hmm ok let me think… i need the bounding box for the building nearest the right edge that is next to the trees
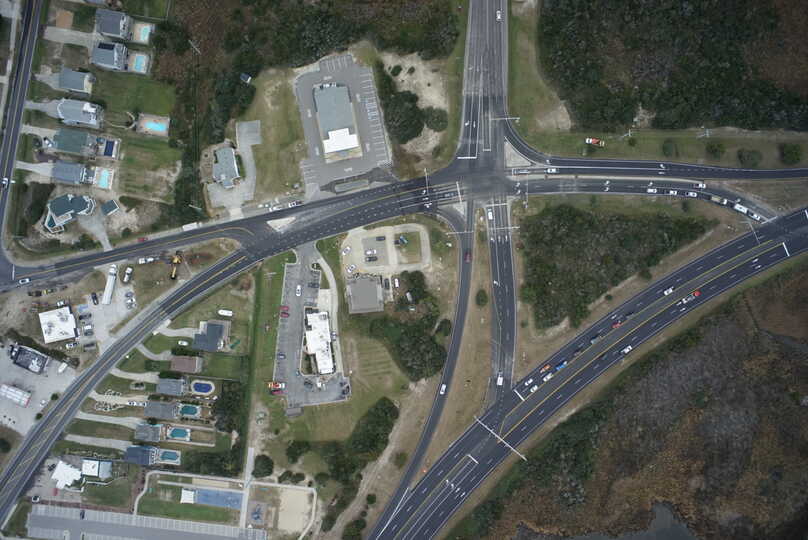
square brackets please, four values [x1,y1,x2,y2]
[349,275,383,313]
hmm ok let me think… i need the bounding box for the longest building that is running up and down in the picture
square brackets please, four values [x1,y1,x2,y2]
[305,307,335,378]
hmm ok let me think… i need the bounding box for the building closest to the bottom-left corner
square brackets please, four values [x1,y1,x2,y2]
[51,459,85,489]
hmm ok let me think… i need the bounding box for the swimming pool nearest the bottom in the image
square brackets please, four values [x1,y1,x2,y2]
[159,448,181,465]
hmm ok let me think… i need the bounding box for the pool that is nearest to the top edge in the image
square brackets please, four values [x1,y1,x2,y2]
[132,21,155,44]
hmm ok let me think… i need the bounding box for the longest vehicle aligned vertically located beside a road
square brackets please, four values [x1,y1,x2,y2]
[99,267,116,306]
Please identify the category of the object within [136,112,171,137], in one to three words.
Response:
swimming pool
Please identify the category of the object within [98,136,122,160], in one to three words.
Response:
swimming pool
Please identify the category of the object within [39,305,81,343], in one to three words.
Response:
building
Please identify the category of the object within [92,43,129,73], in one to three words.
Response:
house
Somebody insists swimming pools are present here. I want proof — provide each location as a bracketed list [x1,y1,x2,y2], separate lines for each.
[132,21,155,44]
[136,112,171,137]
[191,380,215,396]
[166,426,192,442]
[94,167,114,189]
[98,136,122,160]
[180,403,201,418]
[159,448,181,465]
[127,51,150,73]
